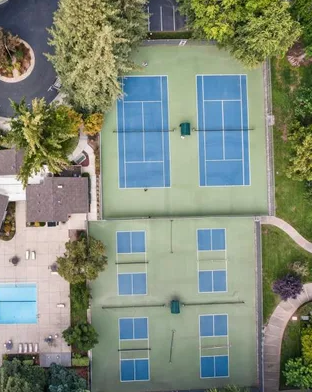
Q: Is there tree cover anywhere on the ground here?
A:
Yes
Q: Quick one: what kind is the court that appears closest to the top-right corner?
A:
tennis court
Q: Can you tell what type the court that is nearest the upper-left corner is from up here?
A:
tennis court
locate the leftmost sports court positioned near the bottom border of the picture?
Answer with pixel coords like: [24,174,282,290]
[118,317,151,382]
